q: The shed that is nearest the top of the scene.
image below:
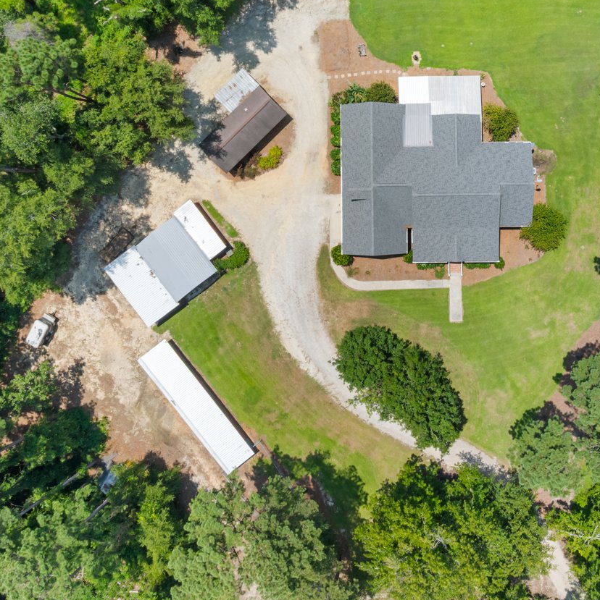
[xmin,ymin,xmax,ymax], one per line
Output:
[199,69,289,171]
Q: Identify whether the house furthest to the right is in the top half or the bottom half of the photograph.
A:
top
